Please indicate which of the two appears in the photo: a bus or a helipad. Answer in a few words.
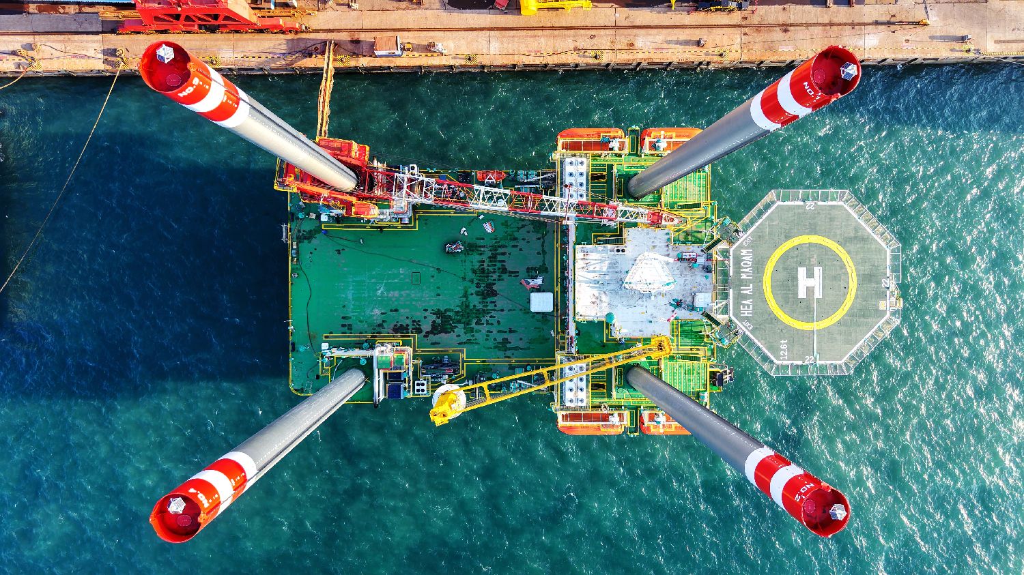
helipad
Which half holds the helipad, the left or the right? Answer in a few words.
right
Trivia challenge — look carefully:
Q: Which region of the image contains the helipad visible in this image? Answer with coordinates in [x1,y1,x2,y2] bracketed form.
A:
[702,189,902,376]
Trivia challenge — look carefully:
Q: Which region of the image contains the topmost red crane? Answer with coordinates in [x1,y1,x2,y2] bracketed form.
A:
[121,0,309,36]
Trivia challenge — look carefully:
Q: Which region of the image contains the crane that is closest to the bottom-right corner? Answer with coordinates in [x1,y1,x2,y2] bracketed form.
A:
[430,337,672,426]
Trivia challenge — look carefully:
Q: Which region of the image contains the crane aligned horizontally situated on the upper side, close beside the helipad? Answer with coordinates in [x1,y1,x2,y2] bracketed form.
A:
[274,138,685,224]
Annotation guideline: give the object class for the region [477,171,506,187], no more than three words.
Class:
boat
